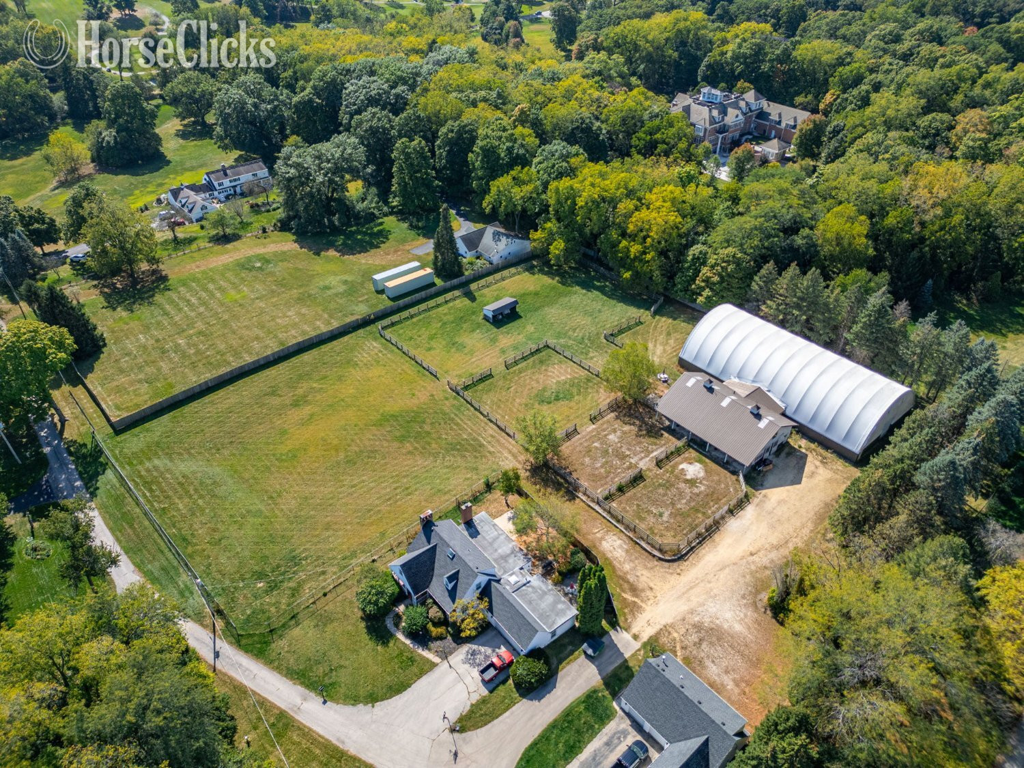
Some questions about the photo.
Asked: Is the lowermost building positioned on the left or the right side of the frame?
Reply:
right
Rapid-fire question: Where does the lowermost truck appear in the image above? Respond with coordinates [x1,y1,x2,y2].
[609,735,656,768]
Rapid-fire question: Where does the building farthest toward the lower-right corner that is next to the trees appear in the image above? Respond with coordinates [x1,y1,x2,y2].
[618,651,761,768]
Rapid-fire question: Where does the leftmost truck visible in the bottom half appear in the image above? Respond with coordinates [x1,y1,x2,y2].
[476,653,517,687]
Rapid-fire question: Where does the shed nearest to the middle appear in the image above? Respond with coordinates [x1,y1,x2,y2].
[482,300,519,324]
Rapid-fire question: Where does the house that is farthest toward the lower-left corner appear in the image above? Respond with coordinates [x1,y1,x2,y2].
[389,503,578,657]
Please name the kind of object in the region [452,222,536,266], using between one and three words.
house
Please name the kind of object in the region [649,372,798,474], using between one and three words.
barn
